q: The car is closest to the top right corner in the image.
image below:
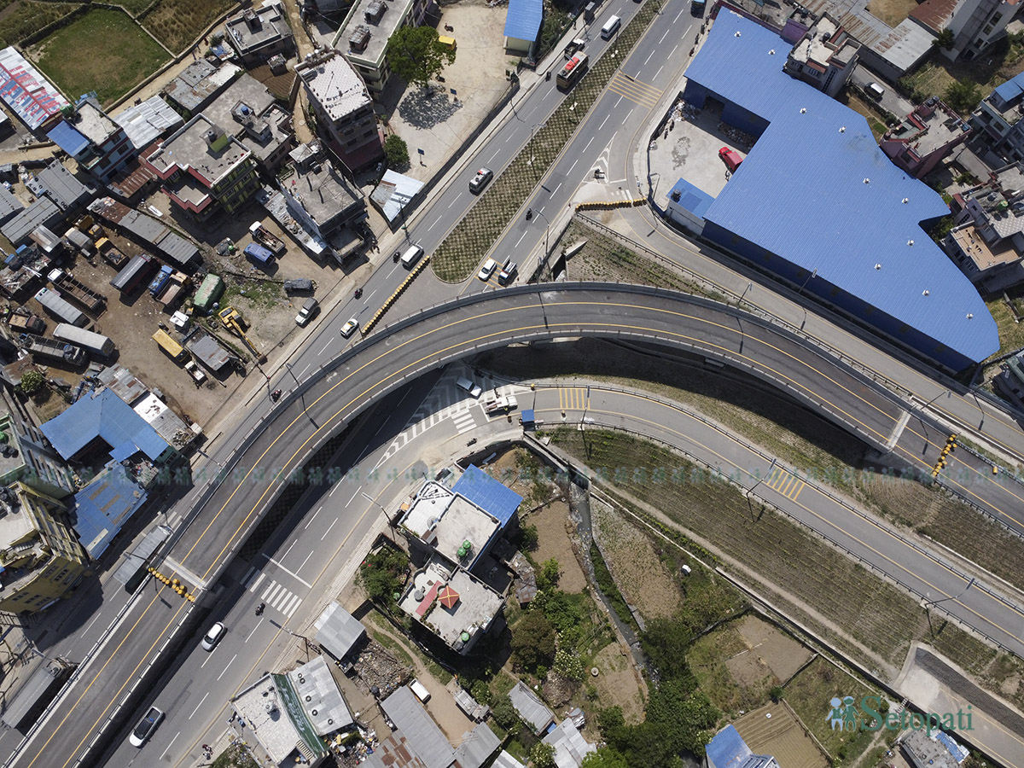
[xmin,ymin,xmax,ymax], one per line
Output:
[862,85,887,101]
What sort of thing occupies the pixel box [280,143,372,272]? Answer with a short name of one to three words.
house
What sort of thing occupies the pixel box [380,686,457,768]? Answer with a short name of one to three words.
shed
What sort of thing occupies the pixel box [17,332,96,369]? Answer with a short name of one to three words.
truck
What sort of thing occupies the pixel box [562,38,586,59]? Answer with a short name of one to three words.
vehicle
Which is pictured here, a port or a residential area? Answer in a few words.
residential area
